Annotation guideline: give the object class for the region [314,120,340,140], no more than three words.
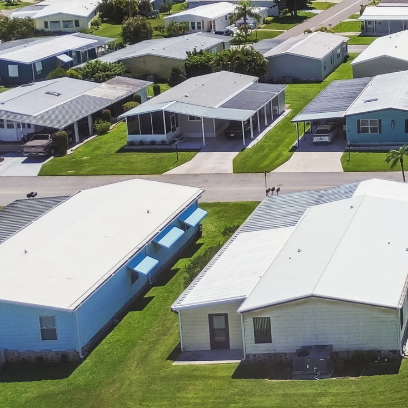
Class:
car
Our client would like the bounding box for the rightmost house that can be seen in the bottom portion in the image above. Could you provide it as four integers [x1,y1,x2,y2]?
[159,175,408,365]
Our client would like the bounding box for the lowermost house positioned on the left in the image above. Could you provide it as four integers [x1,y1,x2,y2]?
[0,180,209,358]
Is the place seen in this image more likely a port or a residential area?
residential area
